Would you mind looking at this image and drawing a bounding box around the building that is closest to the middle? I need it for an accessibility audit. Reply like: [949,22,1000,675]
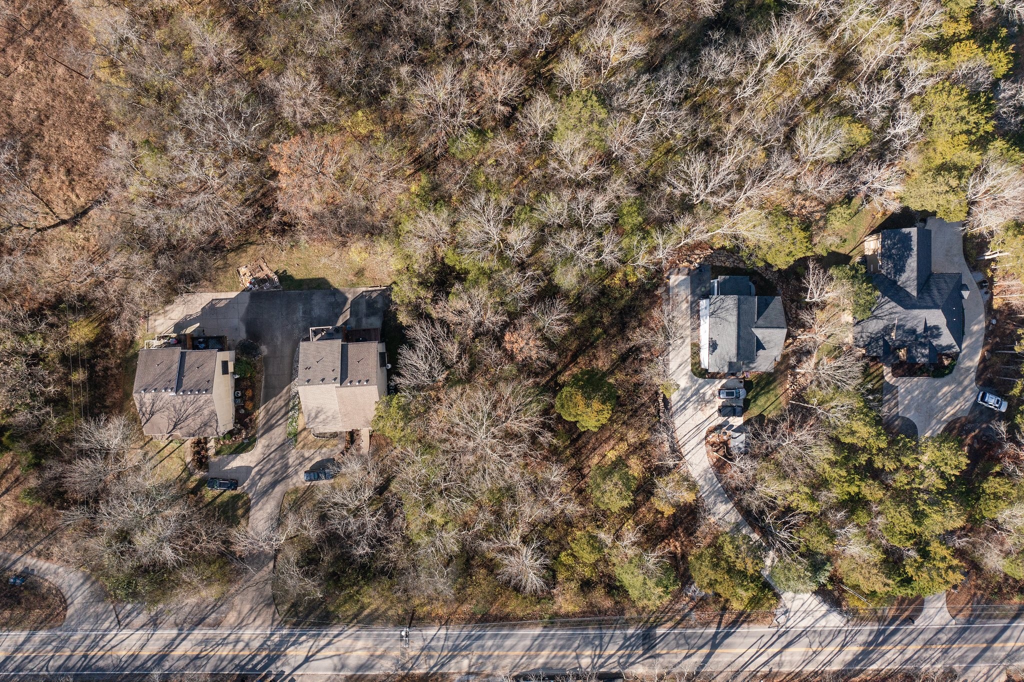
[298,325,386,433]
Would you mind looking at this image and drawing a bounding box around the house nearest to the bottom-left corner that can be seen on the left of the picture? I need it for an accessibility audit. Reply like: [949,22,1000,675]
[133,333,236,440]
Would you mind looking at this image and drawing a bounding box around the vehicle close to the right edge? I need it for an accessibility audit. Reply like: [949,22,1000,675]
[972,391,1005,410]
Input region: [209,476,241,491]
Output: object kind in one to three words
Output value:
car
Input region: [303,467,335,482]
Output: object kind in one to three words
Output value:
car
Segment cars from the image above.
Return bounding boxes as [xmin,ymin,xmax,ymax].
[209,476,241,491]
[972,391,1005,410]
[715,386,746,402]
[303,467,335,482]
[713,402,743,417]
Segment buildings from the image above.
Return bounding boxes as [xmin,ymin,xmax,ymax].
[133,333,236,440]
[700,276,787,372]
[298,325,386,433]
[841,227,969,364]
